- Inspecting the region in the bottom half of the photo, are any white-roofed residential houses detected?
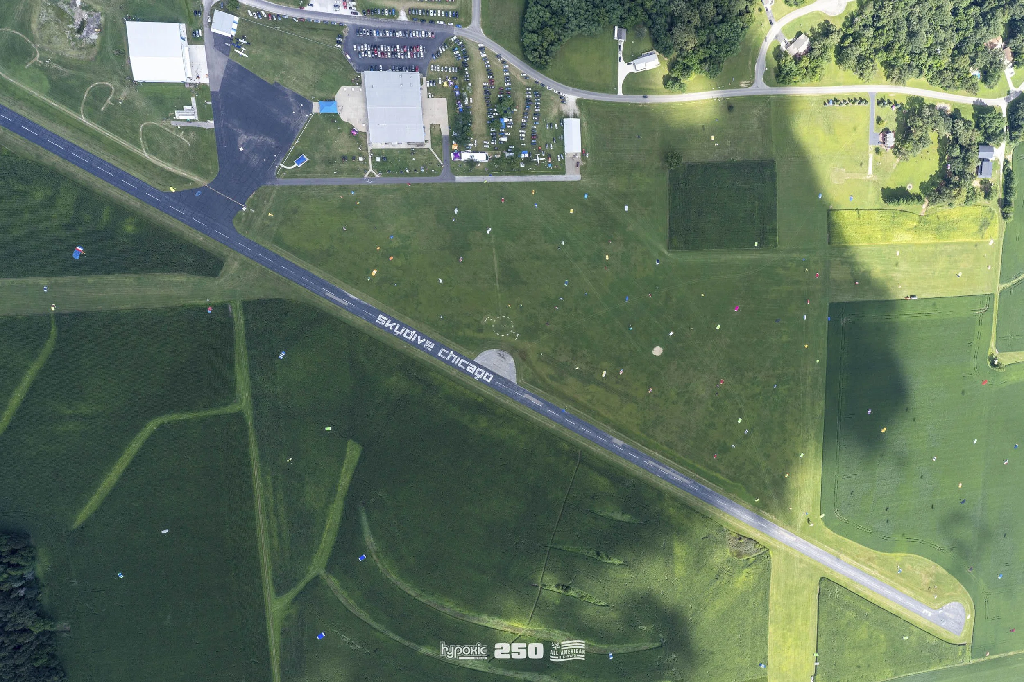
No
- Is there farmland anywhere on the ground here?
Yes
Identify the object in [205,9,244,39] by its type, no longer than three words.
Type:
hangar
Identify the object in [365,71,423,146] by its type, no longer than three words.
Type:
building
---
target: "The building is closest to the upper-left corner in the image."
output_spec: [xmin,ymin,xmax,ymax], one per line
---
[126,21,196,84]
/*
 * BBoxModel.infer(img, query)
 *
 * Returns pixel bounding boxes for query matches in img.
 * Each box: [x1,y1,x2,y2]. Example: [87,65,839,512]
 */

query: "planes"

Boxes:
[532,152,546,165]
[230,39,241,49]
[233,47,247,58]
[234,33,250,45]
